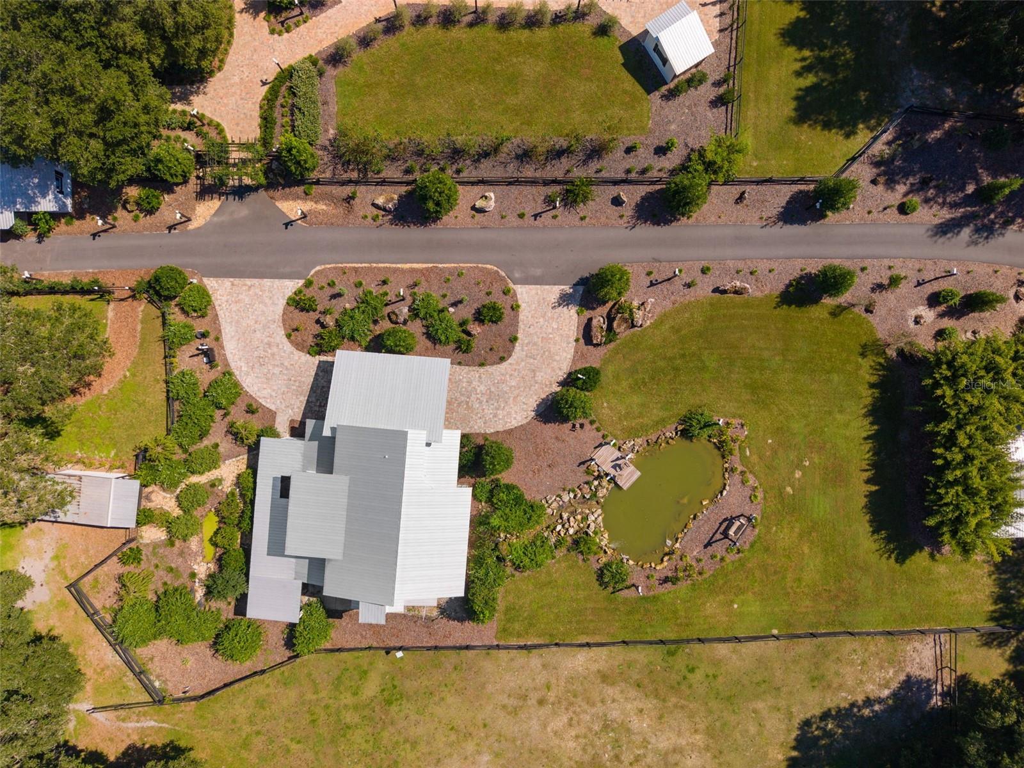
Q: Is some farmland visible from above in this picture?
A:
Yes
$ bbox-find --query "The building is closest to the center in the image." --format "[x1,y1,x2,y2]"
[246,349,473,624]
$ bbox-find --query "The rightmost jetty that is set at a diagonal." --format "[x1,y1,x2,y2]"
[591,445,641,490]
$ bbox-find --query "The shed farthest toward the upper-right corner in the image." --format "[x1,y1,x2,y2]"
[644,0,715,82]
